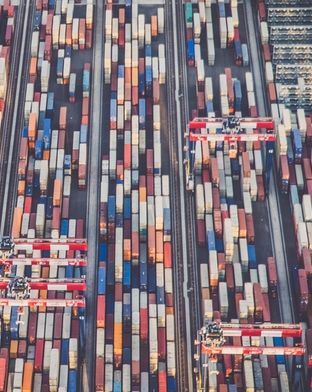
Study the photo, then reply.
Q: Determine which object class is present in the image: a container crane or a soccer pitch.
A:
container crane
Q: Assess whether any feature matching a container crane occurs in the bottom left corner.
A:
Yes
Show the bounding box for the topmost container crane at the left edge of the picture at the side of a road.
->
[0,235,86,316]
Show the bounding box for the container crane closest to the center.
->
[185,115,273,191]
